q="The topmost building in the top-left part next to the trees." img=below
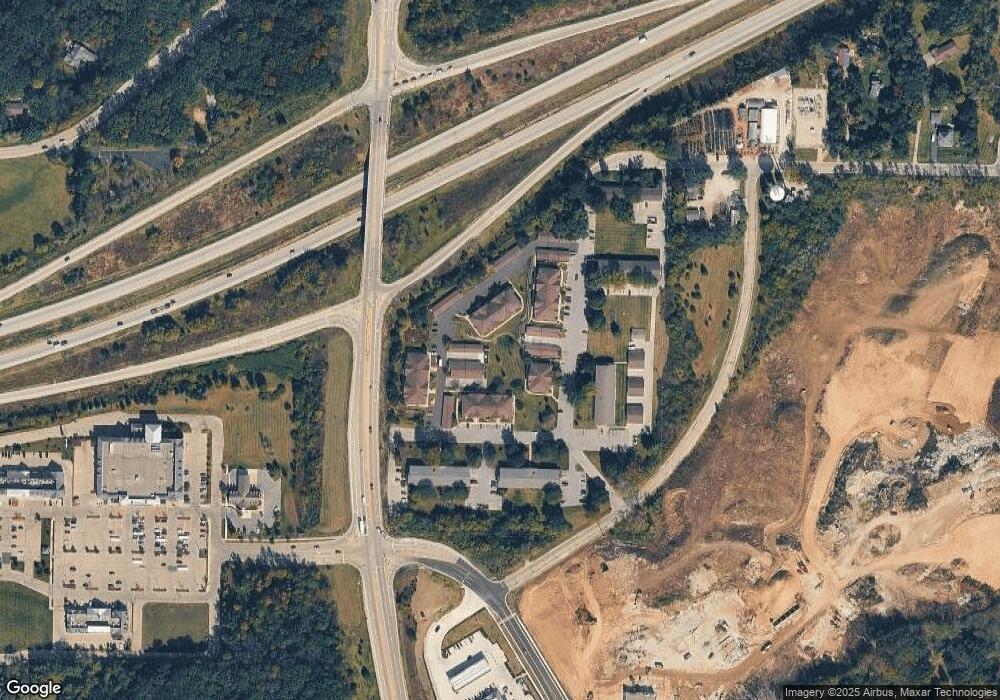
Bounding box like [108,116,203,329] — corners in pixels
[67,42,94,64]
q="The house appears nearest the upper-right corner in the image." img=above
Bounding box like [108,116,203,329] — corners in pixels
[929,39,963,67]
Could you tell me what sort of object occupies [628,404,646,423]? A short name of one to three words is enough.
building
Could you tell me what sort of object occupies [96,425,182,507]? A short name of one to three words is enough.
building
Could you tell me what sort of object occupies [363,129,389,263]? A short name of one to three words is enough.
overpass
